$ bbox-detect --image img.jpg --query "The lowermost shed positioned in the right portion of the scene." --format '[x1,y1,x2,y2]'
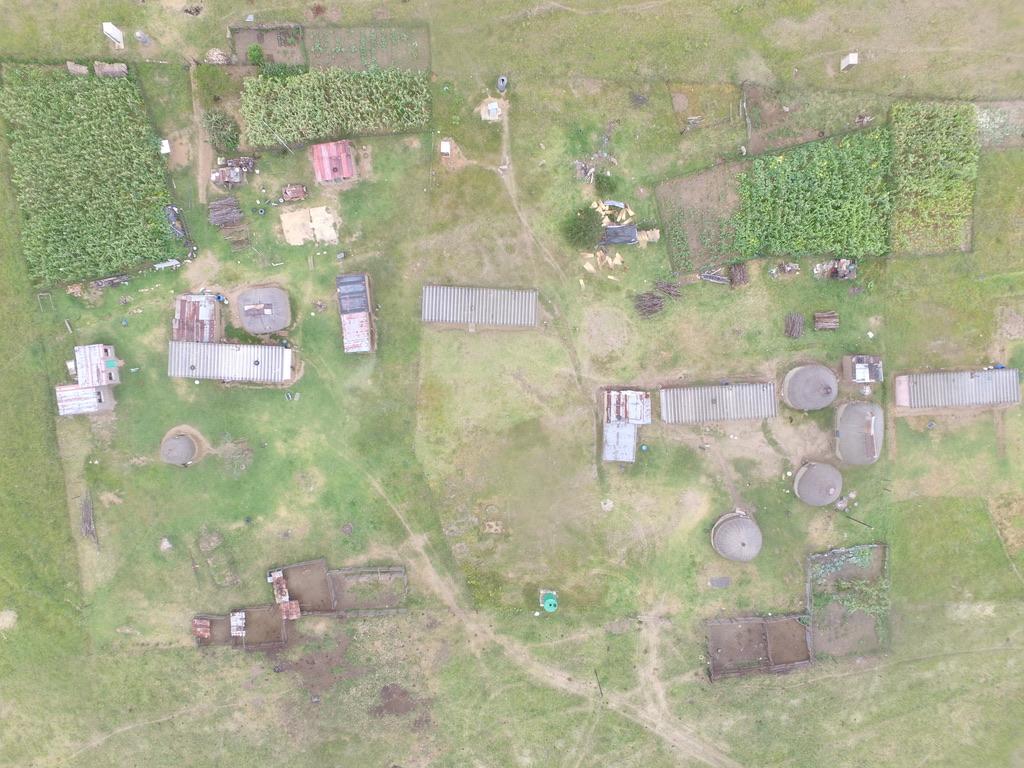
[709,509,762,563]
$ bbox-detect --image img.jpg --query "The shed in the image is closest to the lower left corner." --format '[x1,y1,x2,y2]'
[192,618,216,638]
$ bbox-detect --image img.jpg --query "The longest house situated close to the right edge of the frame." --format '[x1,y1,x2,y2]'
[894,369,1020,408]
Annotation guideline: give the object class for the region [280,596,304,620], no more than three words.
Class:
shed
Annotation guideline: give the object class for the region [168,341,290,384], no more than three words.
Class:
house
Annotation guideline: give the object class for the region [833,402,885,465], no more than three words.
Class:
shed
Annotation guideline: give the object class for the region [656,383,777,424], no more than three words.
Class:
house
